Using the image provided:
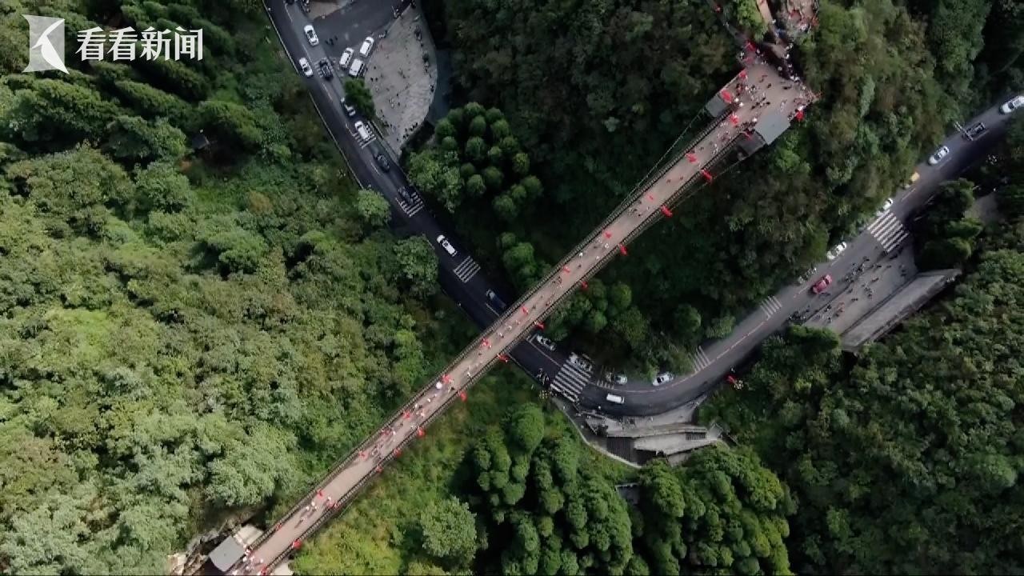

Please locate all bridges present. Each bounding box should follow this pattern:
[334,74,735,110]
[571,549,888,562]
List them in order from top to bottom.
[218,94,766,576]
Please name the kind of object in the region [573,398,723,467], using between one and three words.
building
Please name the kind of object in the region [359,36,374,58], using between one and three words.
vehicle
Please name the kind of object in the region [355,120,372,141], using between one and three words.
car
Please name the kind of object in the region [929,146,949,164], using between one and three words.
car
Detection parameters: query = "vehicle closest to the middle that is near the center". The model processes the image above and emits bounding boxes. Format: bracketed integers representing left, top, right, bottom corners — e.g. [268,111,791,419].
[487,291,506,310]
